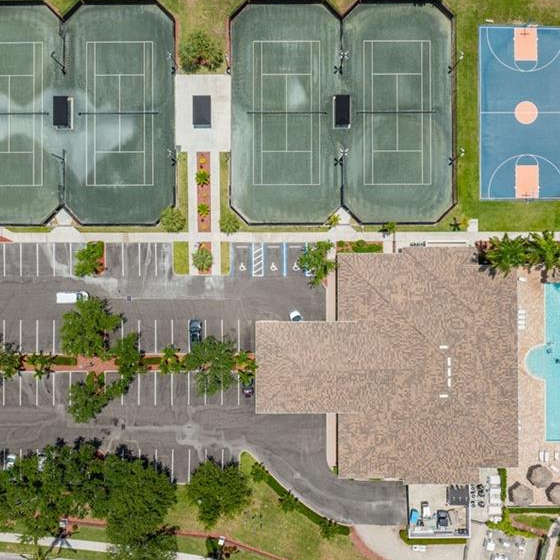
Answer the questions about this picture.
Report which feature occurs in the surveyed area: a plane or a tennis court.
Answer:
tennis court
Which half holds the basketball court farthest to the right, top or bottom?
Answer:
top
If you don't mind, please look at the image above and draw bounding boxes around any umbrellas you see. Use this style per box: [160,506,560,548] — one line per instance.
[548,484,560,507]
[509,483,534,507]
[529,465,553,489]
